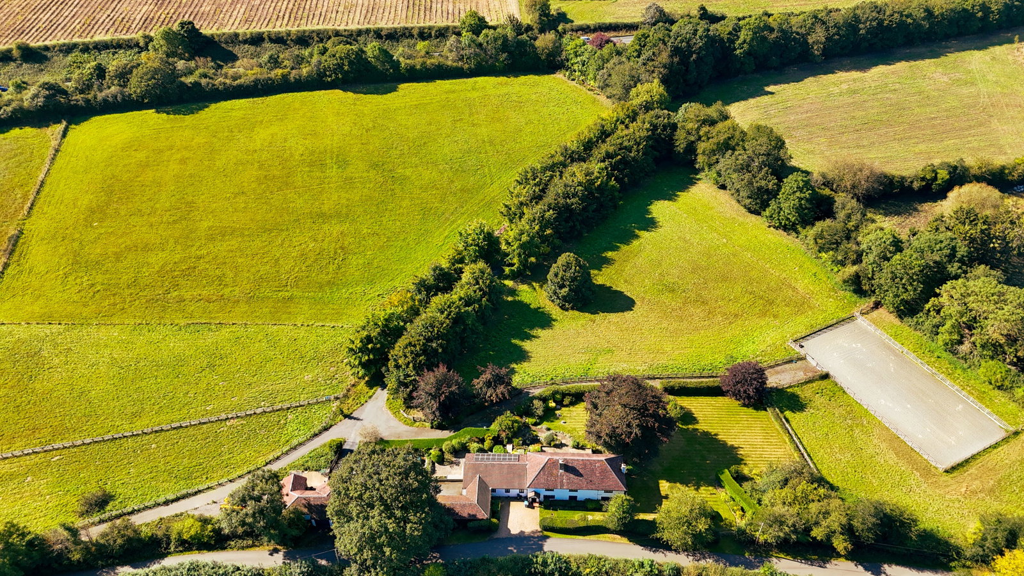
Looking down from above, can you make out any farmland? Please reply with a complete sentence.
Yes, there's farmland in this view.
